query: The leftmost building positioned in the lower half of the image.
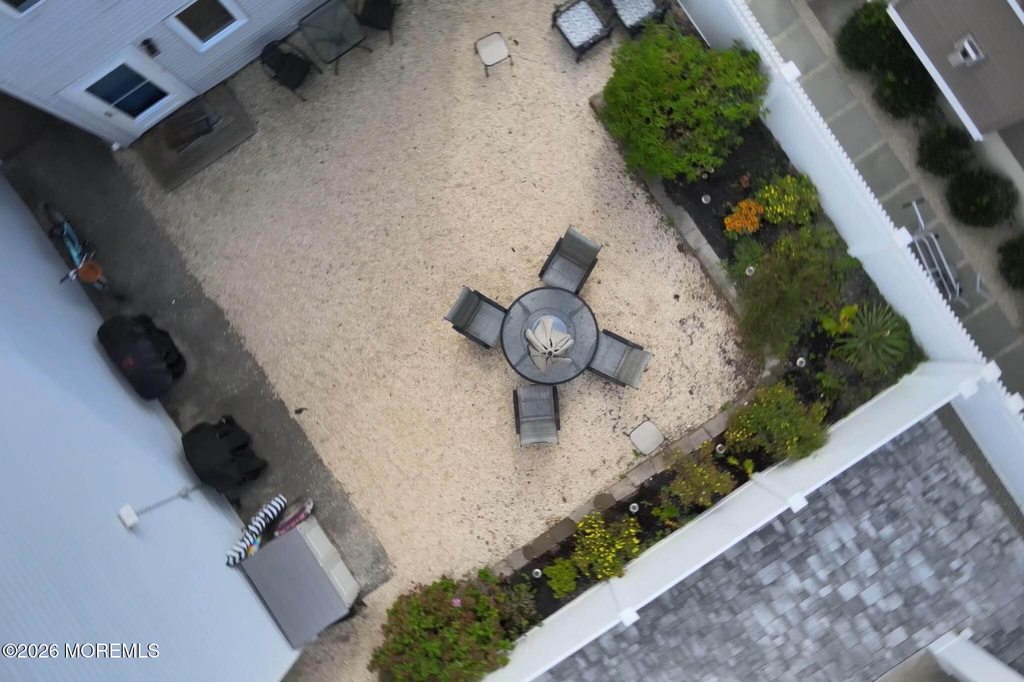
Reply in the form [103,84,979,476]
[0,174,299,682]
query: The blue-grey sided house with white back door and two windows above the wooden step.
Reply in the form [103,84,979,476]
[0,0,330,151]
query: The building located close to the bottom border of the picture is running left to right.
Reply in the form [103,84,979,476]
[875,618,1019,682]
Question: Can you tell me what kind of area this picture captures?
residential area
